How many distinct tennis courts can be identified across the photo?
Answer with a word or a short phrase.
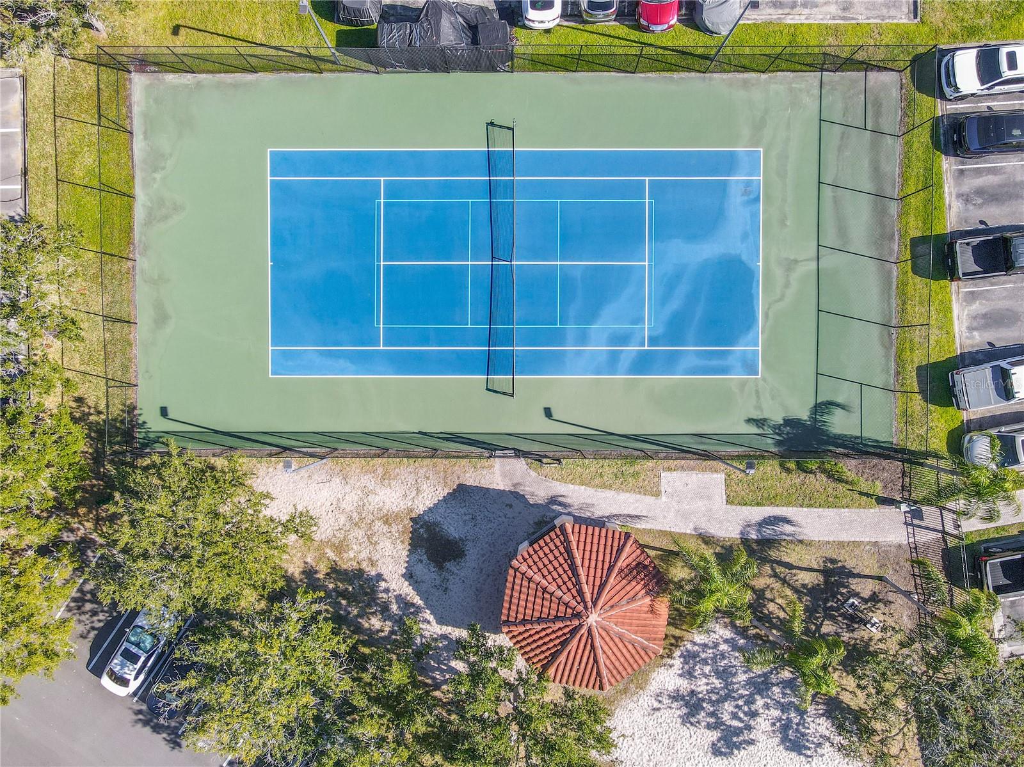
1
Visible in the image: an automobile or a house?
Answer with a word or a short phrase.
automobile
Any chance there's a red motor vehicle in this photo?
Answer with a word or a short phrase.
Yes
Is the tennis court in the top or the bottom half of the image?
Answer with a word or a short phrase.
top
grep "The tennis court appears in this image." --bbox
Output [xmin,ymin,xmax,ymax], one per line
[130,69,903,455]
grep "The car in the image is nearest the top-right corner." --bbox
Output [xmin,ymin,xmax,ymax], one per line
[939,41,1024,97]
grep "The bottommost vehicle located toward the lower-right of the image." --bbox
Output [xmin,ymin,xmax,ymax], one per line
[973,544,1024,598]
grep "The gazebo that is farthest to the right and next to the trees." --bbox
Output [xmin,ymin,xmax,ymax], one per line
[499,514,672,693]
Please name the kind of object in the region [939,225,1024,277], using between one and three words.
truck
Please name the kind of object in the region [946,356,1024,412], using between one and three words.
truck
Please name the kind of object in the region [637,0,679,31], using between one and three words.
car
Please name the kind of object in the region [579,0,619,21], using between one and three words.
car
